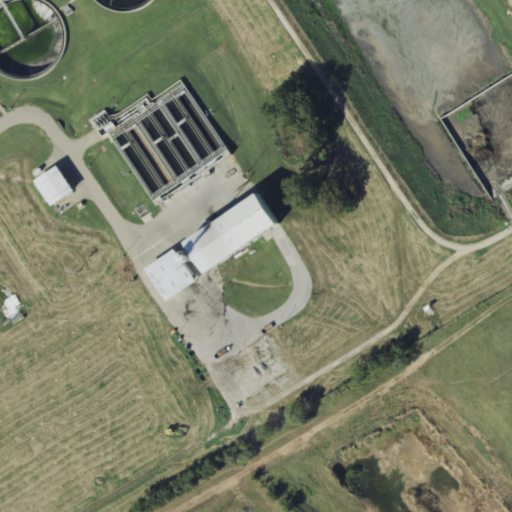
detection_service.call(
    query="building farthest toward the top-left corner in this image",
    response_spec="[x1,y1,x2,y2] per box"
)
[34,166,75,206]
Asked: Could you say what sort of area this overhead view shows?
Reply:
industrial area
